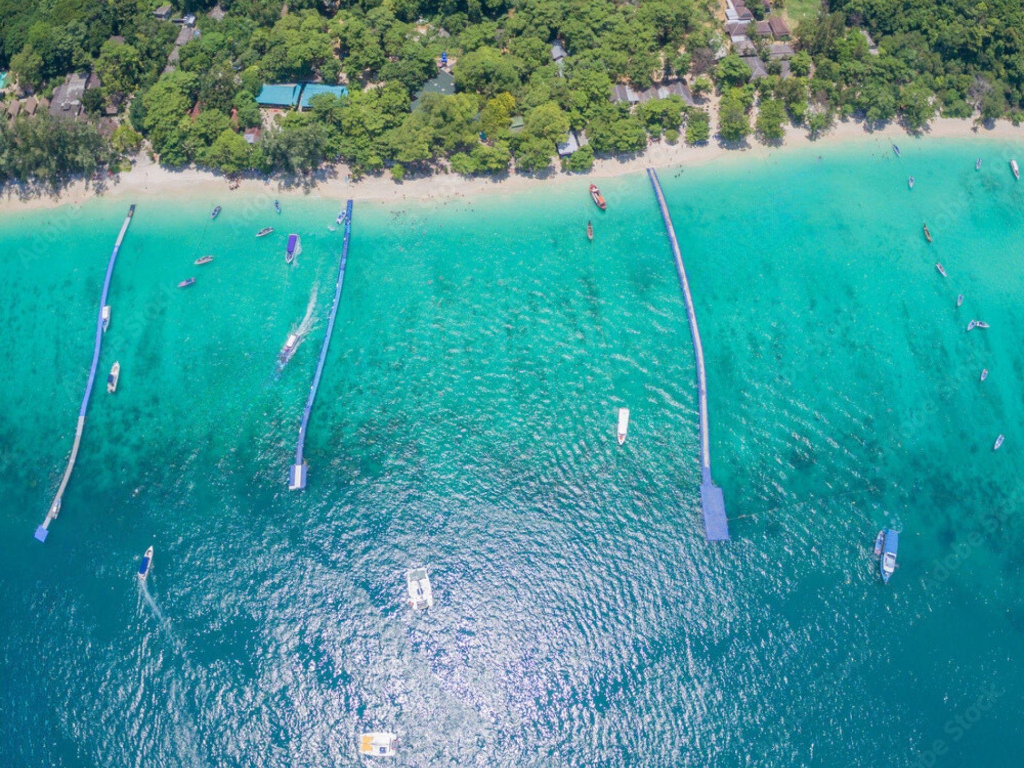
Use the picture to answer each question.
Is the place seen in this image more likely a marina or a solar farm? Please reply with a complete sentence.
The area seen from above is a marina.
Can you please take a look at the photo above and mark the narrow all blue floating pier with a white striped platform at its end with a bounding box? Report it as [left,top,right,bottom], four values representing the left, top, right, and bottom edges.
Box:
[290,200,353,489]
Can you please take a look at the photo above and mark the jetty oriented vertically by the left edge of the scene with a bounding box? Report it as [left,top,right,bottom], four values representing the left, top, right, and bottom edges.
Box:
[35,205,136,542]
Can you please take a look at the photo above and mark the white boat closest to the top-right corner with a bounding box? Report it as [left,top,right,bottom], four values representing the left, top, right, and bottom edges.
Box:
[1008,157,1020,181]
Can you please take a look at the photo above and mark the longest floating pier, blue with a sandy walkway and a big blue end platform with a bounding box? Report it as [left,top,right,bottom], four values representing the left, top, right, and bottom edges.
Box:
[648,168,728,541]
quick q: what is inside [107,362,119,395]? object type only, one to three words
boat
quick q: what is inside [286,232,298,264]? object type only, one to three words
boat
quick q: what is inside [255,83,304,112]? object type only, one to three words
building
